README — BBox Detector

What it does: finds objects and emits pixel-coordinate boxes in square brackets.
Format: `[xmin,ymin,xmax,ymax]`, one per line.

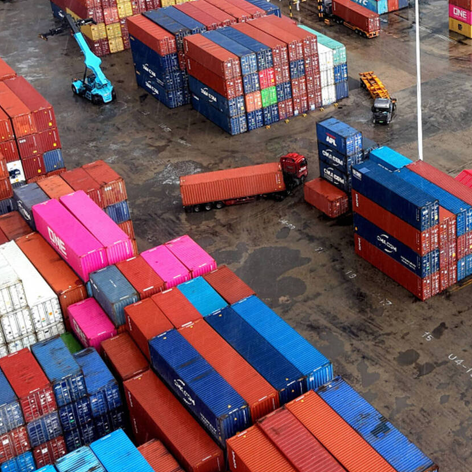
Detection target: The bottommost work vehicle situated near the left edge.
[23,15,115,101]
